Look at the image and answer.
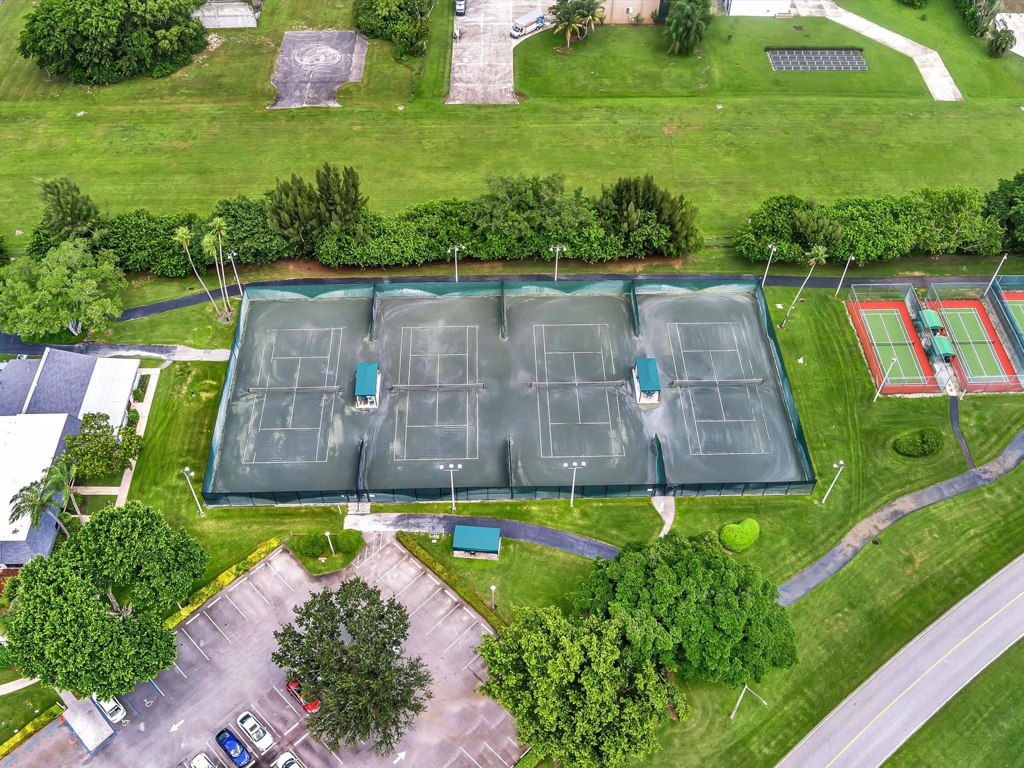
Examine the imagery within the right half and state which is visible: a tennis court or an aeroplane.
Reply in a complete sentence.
Looking within the right half, you will find a tennis court.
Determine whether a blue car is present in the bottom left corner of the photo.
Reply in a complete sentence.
Yes, there is a blue car in the bottom left corner of the photo.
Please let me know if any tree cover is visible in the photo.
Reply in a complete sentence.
Yes, some tree cover is visible.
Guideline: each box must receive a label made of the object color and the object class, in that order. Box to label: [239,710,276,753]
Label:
white car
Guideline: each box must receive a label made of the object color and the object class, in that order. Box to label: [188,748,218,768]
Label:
white car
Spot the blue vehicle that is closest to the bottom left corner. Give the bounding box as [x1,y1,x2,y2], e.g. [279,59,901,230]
[217,727,253,768]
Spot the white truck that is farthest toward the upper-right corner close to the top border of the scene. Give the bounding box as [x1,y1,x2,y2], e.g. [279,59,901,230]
[514,6,549,37]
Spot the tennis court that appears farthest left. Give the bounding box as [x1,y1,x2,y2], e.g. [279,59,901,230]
[210,298,376,506]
